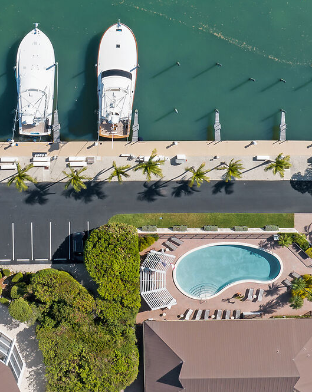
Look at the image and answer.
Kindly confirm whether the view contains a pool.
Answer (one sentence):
Yes, there's a pool here.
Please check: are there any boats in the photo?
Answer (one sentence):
Yes, this view includes a boat.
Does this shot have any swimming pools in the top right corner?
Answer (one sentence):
No, looking in the top right corner, there is no swimming pool.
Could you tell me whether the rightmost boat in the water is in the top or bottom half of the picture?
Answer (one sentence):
The rightmost boat in the water is in the top half of the image.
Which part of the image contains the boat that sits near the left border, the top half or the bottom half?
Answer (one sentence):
The boat that sits near the left border is in the top half of the image.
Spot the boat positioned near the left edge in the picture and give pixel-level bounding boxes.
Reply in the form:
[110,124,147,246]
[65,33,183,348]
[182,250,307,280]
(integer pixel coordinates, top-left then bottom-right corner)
[10,27,54,143]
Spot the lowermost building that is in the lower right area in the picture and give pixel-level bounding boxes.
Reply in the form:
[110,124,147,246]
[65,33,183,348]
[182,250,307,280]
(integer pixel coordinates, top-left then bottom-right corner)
[143,318,312,392]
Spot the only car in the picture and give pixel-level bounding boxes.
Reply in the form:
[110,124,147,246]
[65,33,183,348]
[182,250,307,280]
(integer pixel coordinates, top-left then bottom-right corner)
[71,230,86,261]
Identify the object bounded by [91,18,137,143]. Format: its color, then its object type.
white boat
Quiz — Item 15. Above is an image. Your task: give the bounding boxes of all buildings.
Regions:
[0,330,31,392]
[143,318,312,392]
